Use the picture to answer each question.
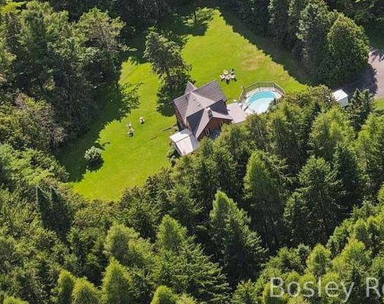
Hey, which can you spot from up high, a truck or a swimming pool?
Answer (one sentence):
I can see a swimming pool in this picture.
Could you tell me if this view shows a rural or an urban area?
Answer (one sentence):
The land in this view is best described as rural.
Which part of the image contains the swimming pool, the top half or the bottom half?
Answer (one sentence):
You can find the swimming pool in the top half.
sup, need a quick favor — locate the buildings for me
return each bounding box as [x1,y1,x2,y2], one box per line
[332,90,349,111]
[168,78,236,148]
